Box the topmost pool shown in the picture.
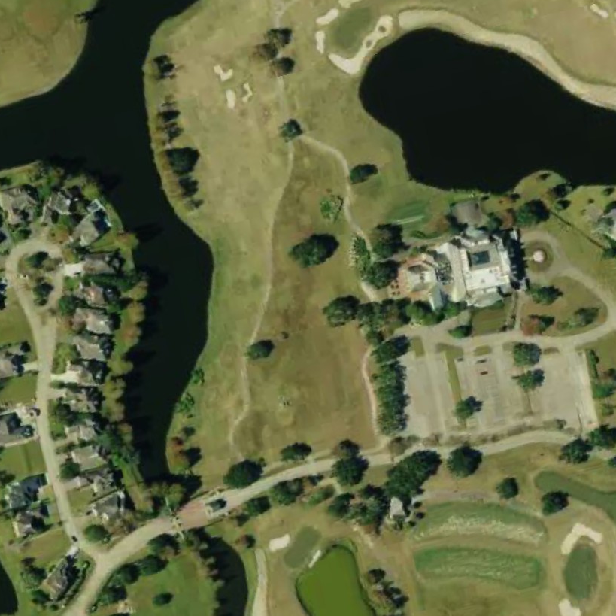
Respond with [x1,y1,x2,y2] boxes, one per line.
[94,200,111,226]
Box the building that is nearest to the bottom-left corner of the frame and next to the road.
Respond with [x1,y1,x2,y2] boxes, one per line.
[38,558,81,602]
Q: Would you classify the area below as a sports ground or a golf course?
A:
golf course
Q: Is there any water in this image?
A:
Yes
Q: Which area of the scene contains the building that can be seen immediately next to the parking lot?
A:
right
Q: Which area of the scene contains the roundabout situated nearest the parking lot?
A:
right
